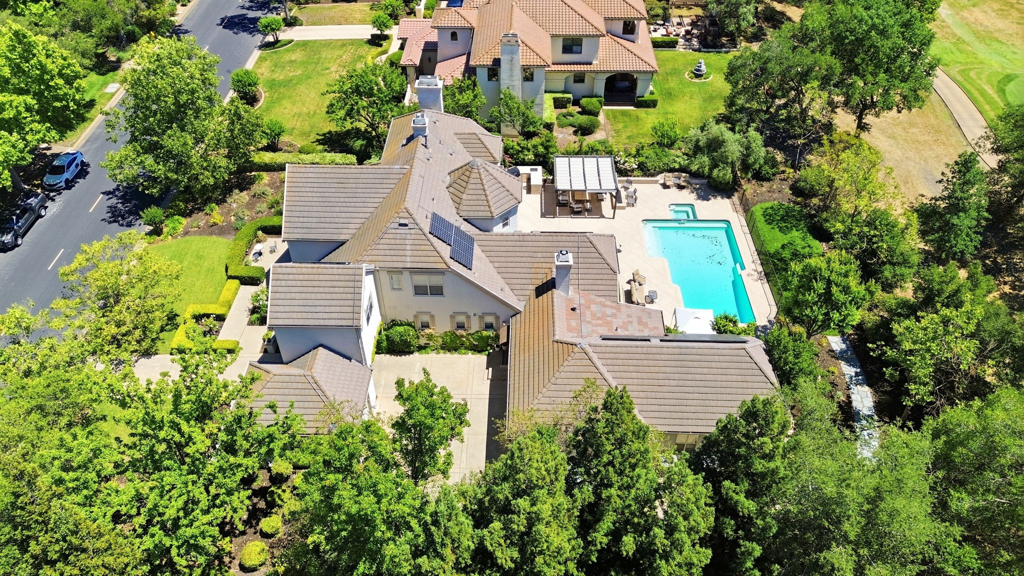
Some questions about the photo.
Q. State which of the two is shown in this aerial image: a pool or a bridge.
pool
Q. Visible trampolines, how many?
zero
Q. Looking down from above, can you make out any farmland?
No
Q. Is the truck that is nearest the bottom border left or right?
left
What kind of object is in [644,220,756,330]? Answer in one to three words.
swimming pool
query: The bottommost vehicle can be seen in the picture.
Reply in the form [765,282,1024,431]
[0,195,46,247]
